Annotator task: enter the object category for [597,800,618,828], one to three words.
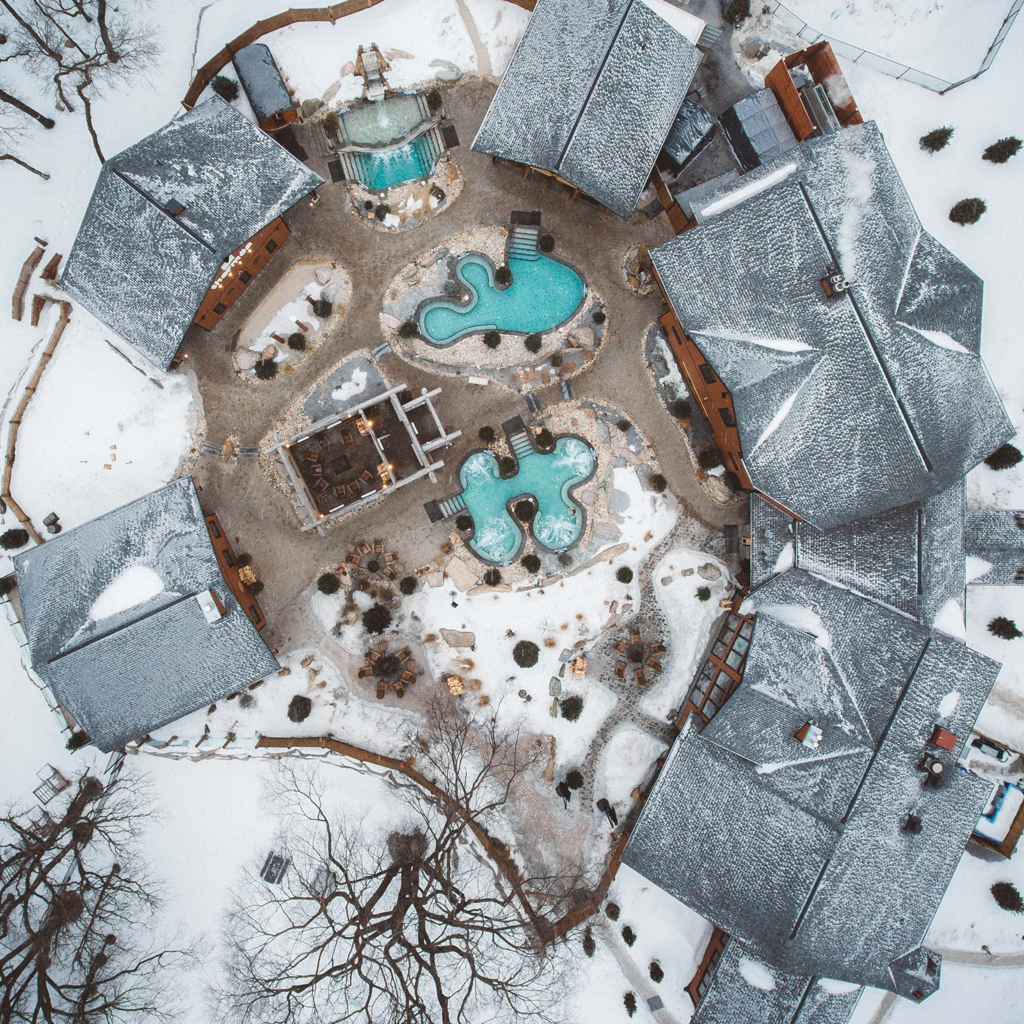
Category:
umbrella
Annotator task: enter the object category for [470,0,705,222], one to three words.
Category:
barn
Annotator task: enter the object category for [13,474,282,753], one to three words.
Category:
building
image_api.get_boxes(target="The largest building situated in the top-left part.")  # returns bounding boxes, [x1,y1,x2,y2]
[58,94,325,371]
